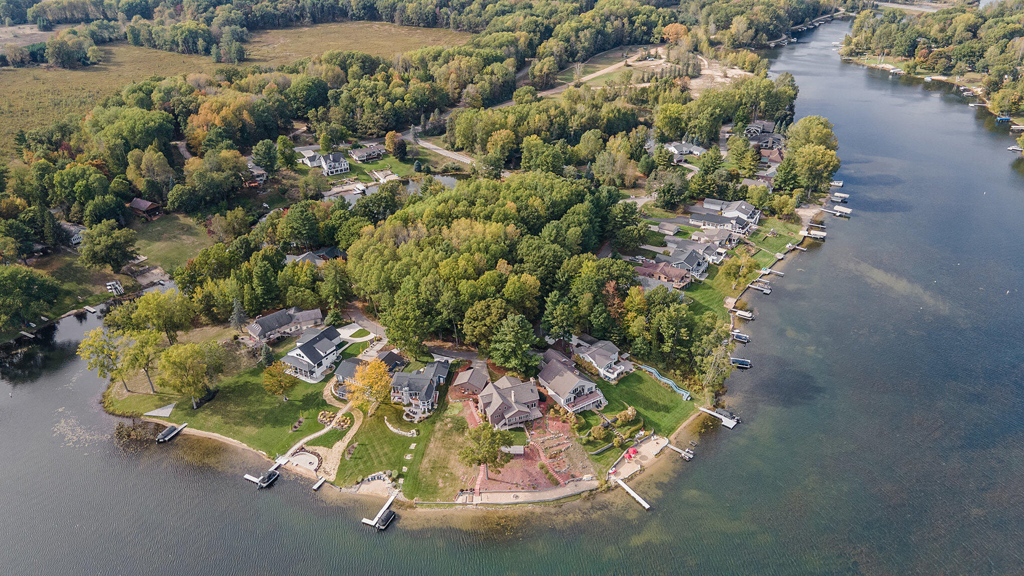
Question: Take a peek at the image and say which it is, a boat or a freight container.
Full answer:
There is a boat in the scene.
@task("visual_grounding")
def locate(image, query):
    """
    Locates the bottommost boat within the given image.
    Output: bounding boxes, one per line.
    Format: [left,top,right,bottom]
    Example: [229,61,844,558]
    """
[377,510,396,529]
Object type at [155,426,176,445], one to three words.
boat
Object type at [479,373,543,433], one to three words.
house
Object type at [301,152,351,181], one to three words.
house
